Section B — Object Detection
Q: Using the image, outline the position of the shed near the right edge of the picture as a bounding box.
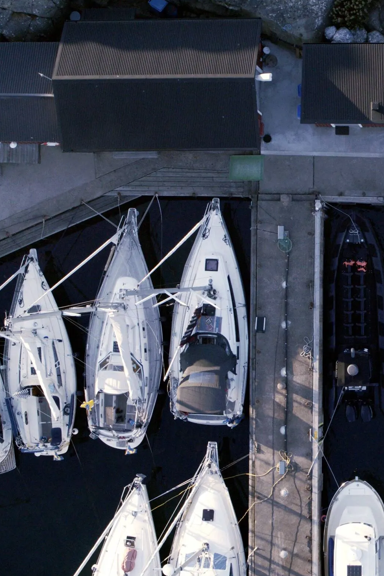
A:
[300,40,384,131]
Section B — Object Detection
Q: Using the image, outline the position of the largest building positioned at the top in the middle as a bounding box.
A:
[52,16,278,154]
